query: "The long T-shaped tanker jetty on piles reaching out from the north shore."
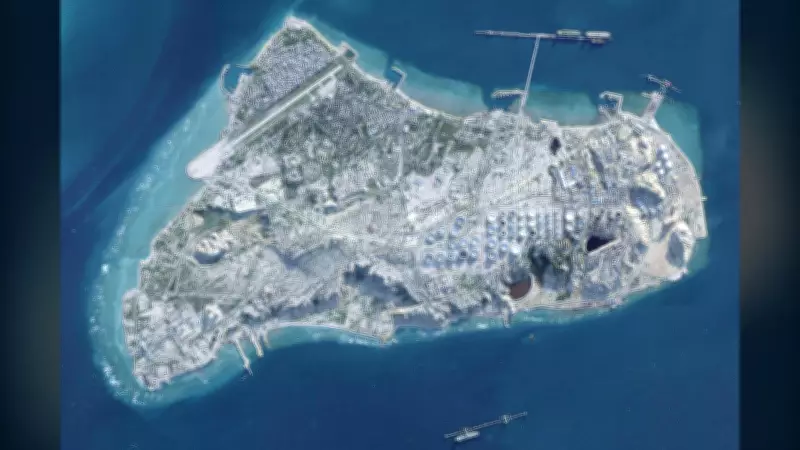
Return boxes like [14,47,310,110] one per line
[474,30,611,115]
